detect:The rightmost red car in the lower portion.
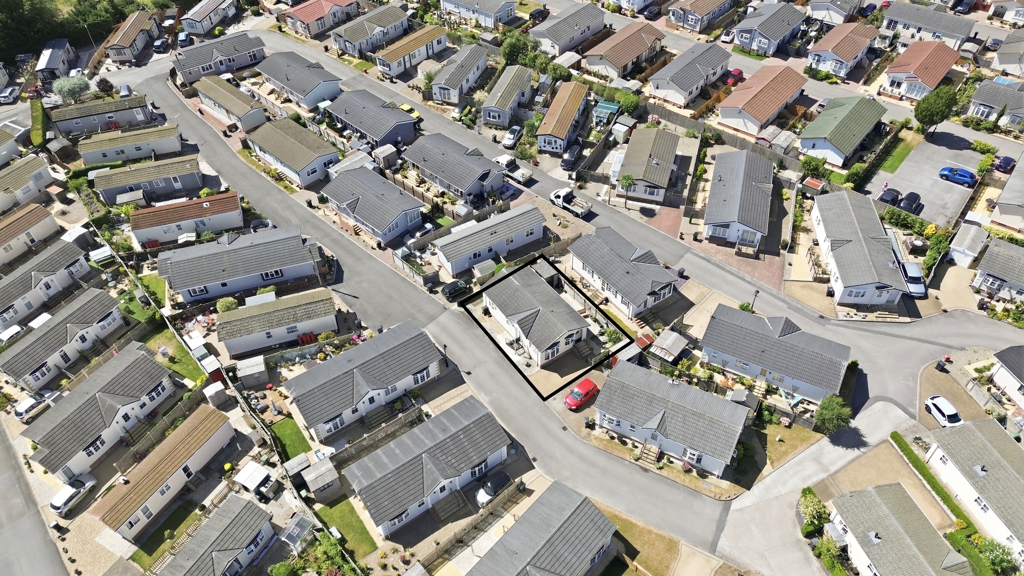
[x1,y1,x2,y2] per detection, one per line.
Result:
[563,378,599,412]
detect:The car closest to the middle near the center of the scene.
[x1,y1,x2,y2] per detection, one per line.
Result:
[439,281,475,306]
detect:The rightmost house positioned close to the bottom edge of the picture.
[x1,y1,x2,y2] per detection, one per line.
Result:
[924,415,1024,562]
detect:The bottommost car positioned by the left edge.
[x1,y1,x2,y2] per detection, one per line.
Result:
[48,476,98,517]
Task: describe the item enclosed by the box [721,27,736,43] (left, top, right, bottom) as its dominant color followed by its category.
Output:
white car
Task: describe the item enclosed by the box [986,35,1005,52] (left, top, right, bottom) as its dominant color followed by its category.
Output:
gray car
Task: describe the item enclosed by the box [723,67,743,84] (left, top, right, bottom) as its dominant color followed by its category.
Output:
red car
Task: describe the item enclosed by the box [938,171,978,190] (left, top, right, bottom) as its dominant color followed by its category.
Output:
blue car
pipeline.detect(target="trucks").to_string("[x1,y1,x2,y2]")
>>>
[494,152,534,180]
[548,191,594,220]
